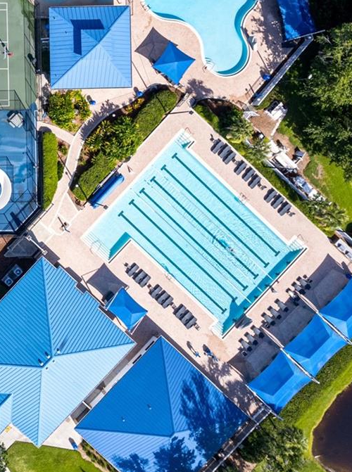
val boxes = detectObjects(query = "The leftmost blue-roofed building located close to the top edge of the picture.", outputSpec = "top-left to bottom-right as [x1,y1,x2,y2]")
[48,6,132,89]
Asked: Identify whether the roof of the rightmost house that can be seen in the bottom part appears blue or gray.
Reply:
blue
